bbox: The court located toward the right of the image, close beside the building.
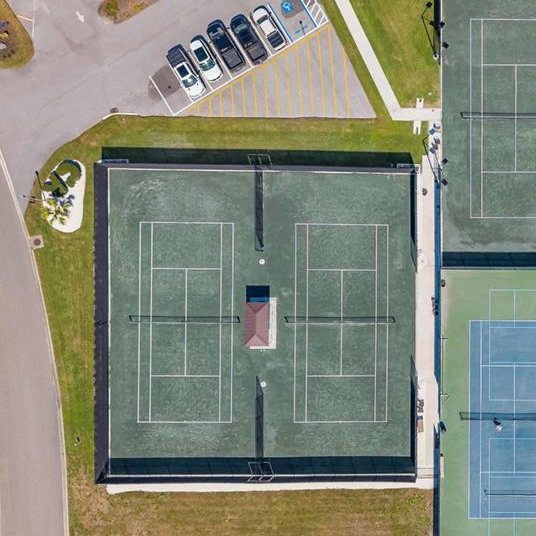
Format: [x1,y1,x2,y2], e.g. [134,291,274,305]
[263,171,416,476]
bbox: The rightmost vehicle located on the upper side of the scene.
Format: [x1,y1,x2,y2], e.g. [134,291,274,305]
[252,6,287,51]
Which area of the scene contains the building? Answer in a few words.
center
